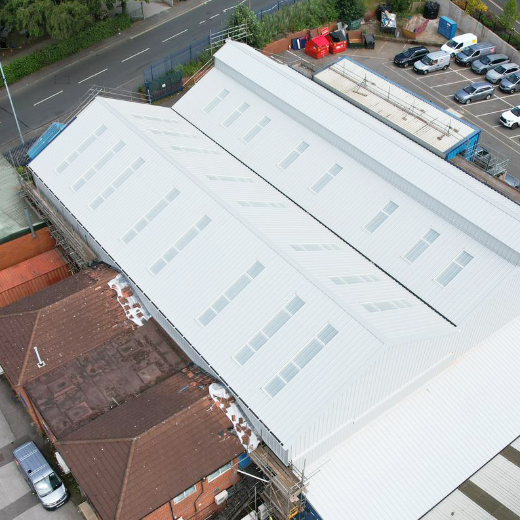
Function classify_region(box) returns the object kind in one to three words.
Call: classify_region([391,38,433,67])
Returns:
car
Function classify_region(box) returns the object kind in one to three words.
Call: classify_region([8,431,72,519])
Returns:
van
